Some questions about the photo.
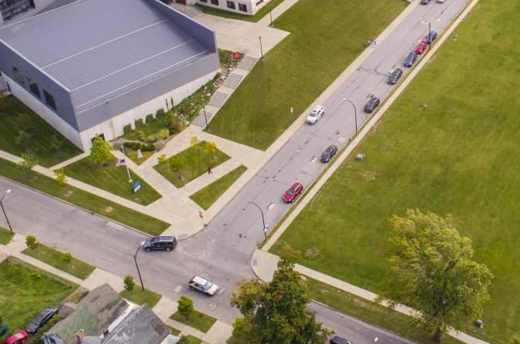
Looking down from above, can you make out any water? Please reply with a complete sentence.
No, there's no water in this view.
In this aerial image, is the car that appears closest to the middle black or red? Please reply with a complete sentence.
The color of the car that appears closest to the middle is red.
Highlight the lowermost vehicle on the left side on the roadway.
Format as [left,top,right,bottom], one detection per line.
[188,273,222,298]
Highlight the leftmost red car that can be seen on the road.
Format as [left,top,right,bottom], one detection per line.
[279,179,304,204]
